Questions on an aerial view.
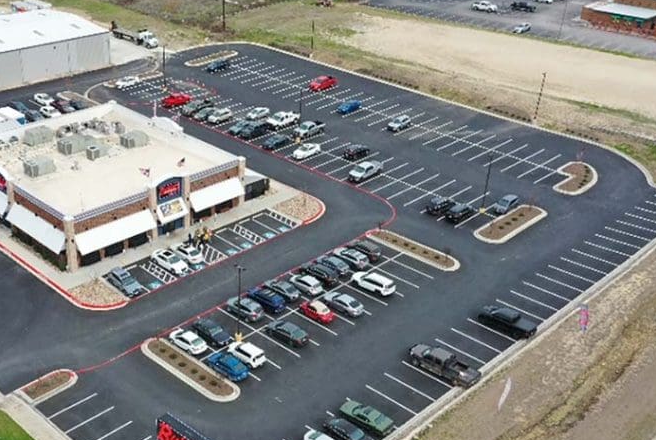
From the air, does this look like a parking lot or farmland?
parking lot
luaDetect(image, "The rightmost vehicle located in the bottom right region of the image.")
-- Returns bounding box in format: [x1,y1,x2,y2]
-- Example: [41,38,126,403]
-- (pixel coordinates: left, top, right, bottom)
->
[474,302,536,339]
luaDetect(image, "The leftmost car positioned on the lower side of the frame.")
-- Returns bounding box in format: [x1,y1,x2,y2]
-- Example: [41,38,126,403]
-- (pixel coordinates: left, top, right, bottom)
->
[112,262,147,293]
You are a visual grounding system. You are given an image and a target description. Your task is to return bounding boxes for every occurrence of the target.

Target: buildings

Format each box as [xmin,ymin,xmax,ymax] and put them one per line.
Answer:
[0,9,113,90]
[582,0,656,34]
[0,101,266,274]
